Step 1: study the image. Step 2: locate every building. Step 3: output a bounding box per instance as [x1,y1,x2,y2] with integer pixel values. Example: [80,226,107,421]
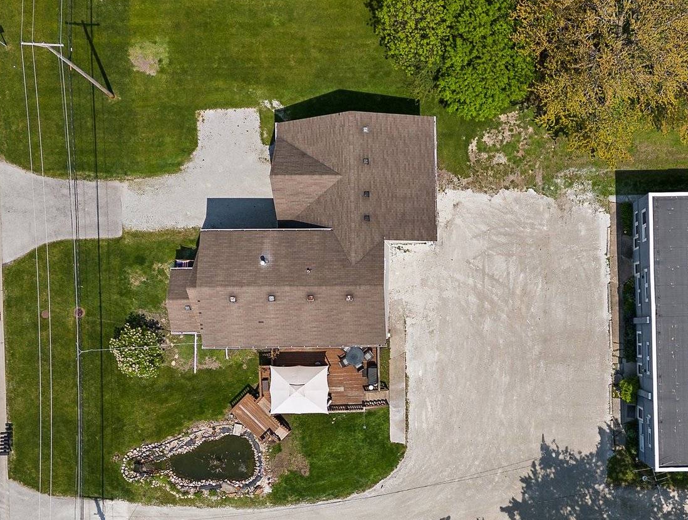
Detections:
[166,110,439,373]
[634,193,688,471]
